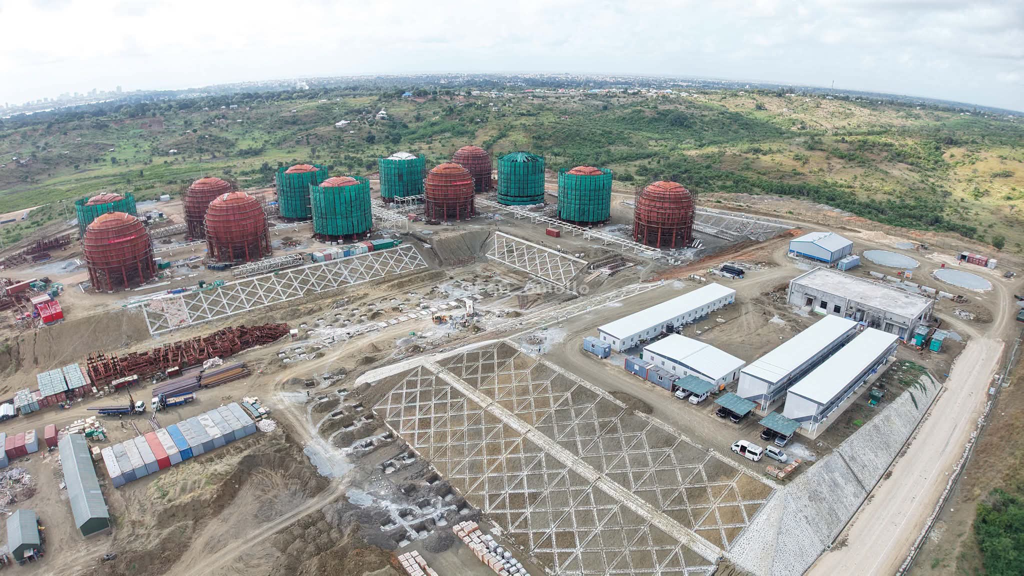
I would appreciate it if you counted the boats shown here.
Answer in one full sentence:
Not a single boat can be seen.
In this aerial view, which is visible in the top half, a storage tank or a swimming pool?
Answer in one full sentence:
The feature located in the top half is a storage tank.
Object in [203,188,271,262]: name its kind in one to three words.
storage tank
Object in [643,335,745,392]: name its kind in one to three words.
building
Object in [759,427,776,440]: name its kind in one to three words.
vehicle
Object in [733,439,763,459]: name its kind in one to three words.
vehicle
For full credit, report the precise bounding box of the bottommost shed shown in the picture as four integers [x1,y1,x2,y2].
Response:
[7,511,45,563]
